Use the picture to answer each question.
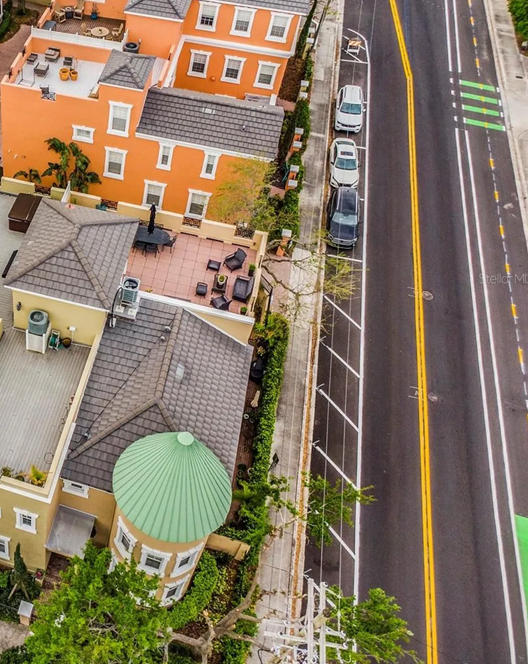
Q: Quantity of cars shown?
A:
3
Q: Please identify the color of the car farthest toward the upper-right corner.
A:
white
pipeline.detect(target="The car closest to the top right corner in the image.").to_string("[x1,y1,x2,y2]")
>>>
[336,89,370,140]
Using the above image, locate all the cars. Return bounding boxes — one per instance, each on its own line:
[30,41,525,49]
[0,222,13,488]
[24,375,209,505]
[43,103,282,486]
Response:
[329,190,370,255]
[336,89,370,140]
[332,145,368,193]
